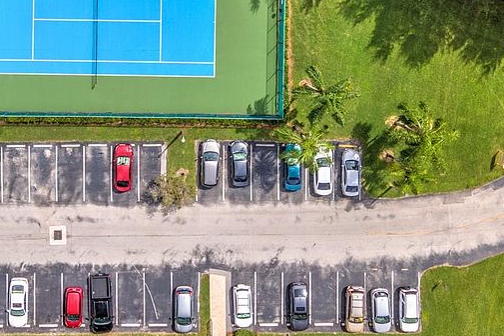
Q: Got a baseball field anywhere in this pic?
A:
No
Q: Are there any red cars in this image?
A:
Yes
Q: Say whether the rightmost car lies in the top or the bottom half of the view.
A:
bottom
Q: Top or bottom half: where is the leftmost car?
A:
bottom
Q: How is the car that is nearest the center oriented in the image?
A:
vertically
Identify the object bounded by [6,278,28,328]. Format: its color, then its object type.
white car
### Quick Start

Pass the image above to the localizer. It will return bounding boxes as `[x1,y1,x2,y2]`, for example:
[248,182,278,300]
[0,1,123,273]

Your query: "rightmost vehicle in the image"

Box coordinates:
[396,285,422,334]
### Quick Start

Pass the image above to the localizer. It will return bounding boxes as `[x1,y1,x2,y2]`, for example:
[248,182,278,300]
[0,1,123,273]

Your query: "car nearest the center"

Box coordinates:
[229,140,250,188]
